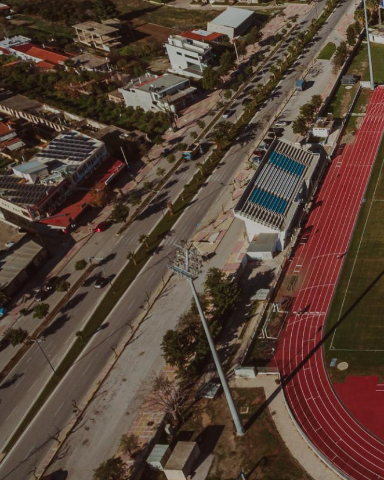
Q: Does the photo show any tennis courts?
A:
No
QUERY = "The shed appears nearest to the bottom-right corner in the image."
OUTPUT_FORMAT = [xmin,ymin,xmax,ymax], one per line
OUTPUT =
[232,360,257,376]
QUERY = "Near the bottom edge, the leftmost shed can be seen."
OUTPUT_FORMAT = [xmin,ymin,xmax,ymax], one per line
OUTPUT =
[143,444,171,472]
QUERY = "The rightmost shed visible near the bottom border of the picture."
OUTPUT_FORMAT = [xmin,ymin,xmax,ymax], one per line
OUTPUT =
[162,441,200,480]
